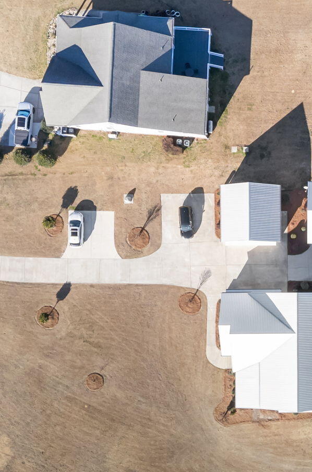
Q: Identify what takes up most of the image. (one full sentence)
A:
For the most part, this view shows grass.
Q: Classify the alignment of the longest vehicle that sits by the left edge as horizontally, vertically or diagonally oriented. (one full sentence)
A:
In this picture, the longest vehicle that sits by the left edge lies vertically.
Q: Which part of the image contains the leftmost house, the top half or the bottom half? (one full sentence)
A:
The leftmost house is in the top half of the image.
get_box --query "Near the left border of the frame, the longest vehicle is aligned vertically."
[15,103,34,147]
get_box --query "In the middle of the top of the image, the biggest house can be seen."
[42,10,223,138]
